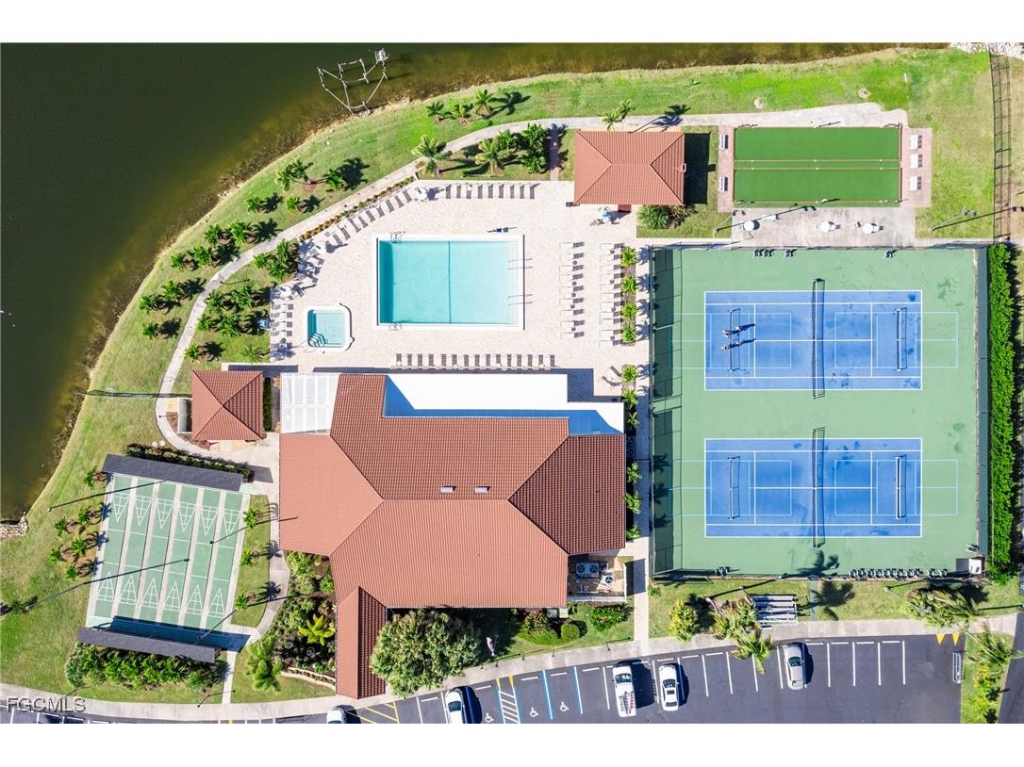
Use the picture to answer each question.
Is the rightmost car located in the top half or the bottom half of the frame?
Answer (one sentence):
The bottom half of the photo is where the rightmost car is.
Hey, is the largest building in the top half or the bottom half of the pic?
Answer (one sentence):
You can find the largest building in the bottom half.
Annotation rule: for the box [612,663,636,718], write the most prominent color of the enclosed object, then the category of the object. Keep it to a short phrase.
white vehicle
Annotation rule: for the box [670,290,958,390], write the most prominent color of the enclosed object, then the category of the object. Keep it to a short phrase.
blue tennis court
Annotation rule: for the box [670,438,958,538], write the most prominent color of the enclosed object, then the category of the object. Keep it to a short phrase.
blue tennis court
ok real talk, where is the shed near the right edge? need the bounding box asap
[961,559,986,579]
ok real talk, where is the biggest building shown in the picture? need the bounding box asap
[279,373,626,699]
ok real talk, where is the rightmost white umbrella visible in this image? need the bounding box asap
[598,209,612,223]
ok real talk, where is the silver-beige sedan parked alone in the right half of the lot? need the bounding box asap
[781,642,805,688]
